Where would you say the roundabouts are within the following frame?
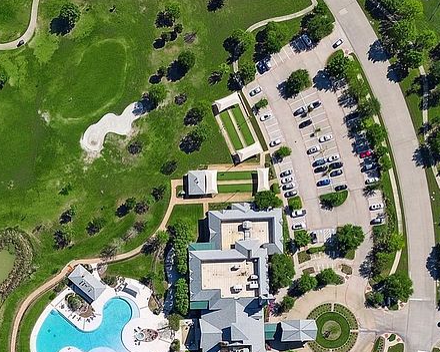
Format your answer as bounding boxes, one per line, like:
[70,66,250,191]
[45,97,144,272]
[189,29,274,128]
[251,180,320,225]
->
[306,302,358,352]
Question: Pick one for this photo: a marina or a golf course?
golf course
